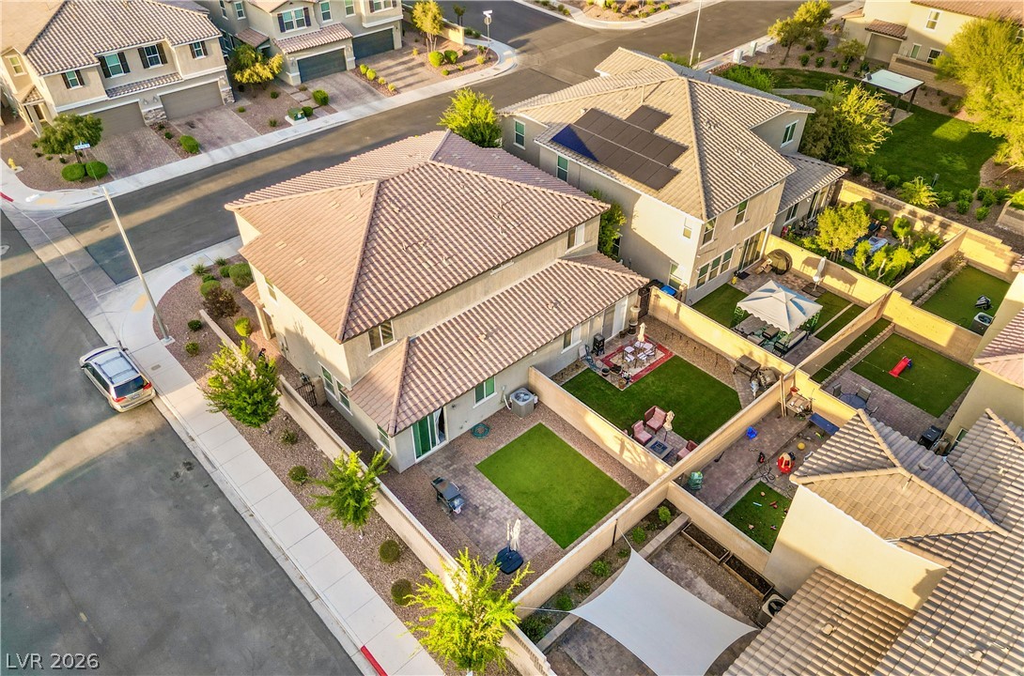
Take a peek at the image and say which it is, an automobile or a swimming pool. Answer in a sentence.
The image shows an automobile.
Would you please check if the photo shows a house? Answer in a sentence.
Yes, there's a house down there.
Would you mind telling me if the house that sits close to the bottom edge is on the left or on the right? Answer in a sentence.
The house that sits close to the bottom edge is on the right side of the image.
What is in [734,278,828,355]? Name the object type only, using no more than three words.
gazebo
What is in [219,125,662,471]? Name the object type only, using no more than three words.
house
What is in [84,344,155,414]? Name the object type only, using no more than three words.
car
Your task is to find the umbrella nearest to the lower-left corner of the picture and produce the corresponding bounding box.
[493,516,527,571]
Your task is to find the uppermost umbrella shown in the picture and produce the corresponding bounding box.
[812,256,825,289]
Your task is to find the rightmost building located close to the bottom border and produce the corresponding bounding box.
[727,407,1024,676]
